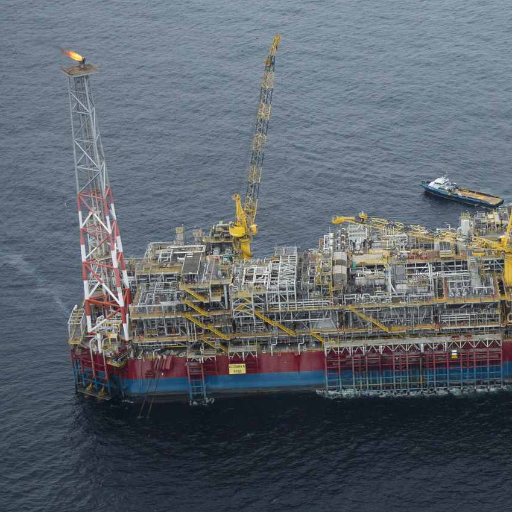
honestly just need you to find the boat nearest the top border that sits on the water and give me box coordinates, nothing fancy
[419,172,504,211]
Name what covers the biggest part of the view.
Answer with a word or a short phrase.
water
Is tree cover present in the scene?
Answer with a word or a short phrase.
No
